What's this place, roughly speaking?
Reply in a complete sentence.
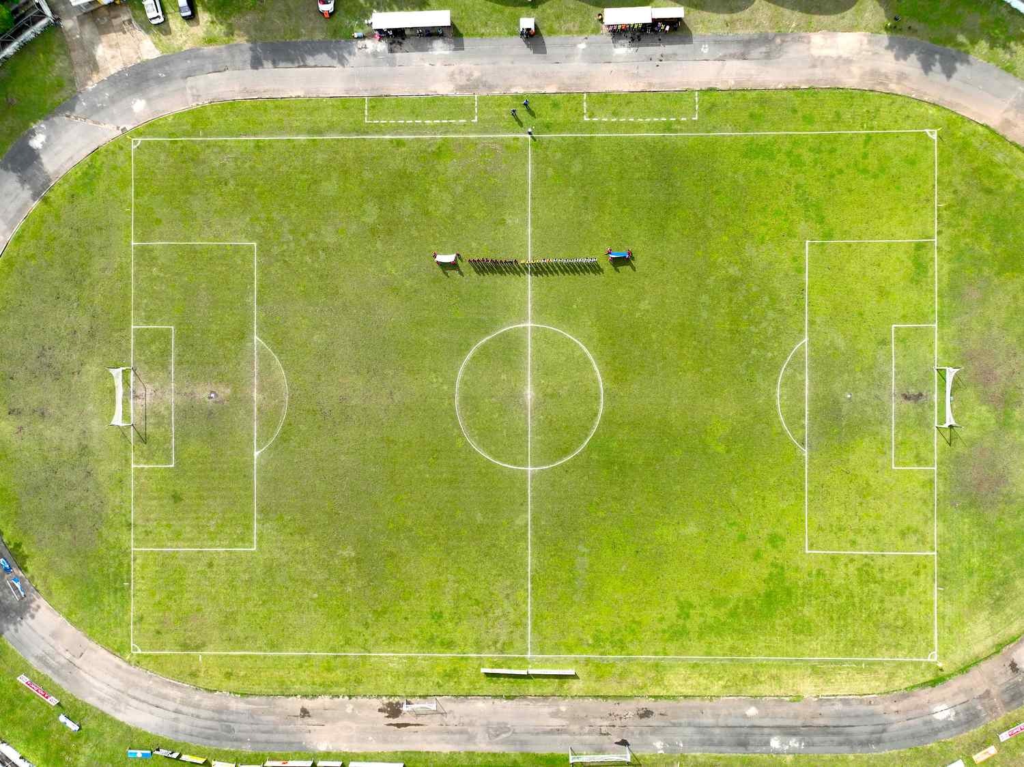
The picture captures a sports ground.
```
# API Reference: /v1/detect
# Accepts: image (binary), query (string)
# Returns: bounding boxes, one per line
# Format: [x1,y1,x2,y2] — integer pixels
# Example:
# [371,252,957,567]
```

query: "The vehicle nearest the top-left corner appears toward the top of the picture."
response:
[138,0,163,27]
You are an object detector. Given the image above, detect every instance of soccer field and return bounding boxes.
[123,94,945,667]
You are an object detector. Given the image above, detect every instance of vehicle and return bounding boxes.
[176,0,194,20]
[317,0,334,13]
[138,0,163,27]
